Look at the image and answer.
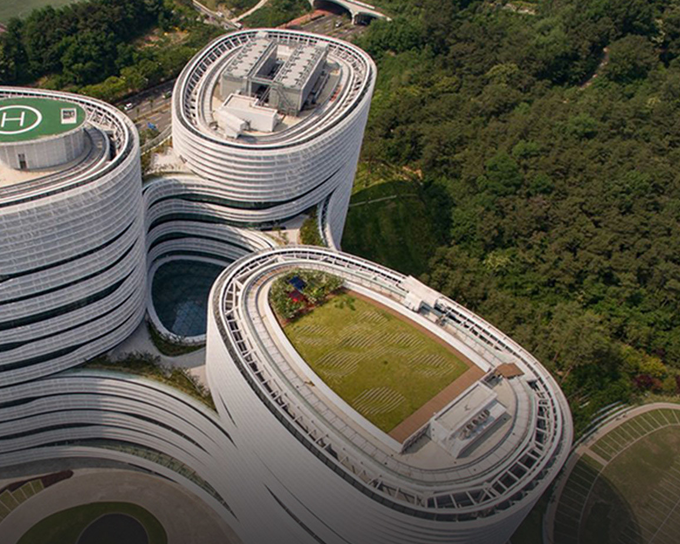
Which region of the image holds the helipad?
top left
